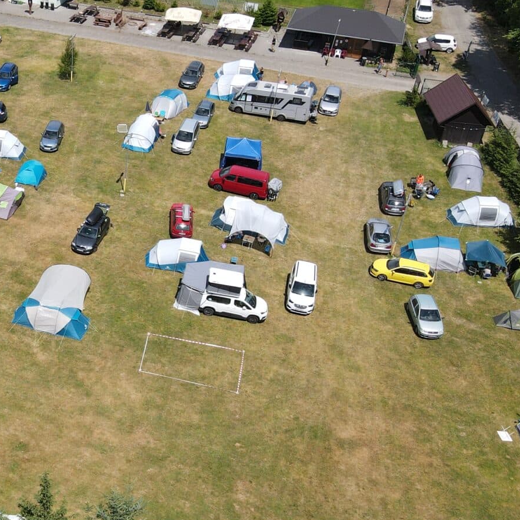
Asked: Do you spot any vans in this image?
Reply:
Yes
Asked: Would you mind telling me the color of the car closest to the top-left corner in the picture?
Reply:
blue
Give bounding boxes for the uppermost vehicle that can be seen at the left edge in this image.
[0,63,23,89]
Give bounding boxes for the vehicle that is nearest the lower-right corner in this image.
[405,286,449,335]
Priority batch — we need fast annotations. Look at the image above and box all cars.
[40,118,68,148]
[179,61,204,86]
[199,269,270,325]
[0,63,23,89]
[356,215,394,250]
[366,254,442,289]
[193,96,220,125]
[284,254,320,311]
[72,196,111,251]
[319,85,344,113]
[171,116,196,151]
[405,286,449,335]
[417,33,459,53]
[409,0,434,20]
[374,176,408,213]
[166,200,194,235]
[0,99,9,122]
